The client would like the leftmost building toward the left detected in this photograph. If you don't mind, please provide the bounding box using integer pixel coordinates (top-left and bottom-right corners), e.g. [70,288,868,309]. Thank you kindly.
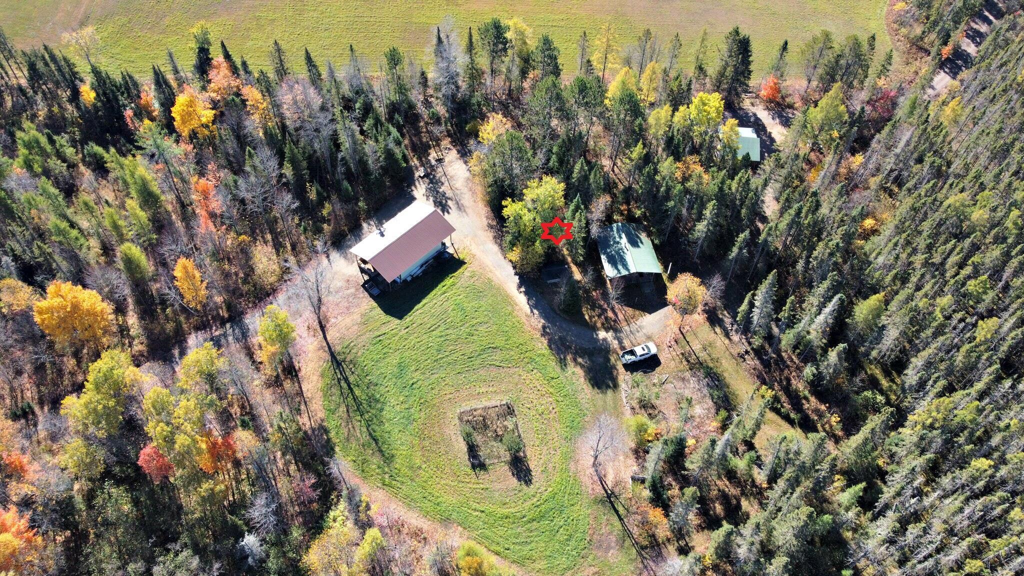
[346,202,460,292]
